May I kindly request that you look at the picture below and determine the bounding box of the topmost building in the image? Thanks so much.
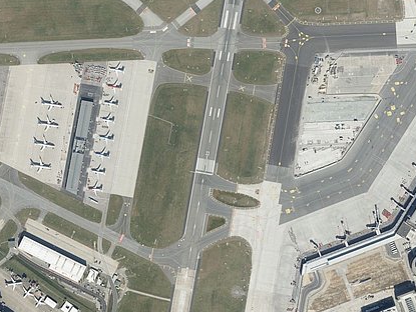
[65,93,96,198]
